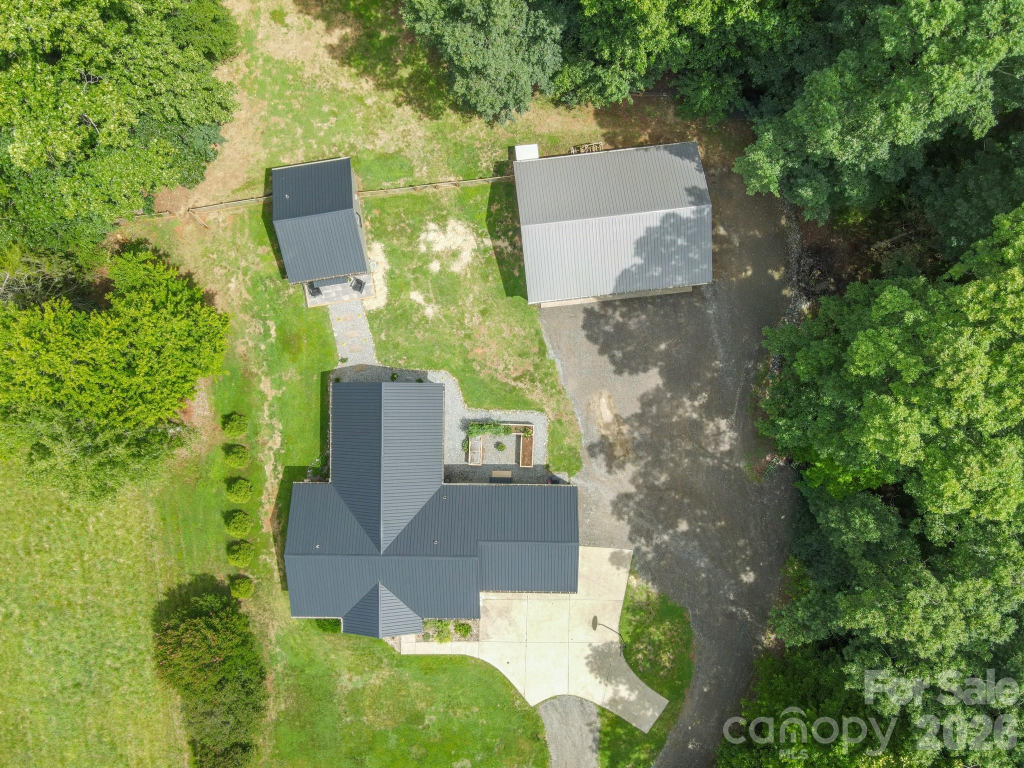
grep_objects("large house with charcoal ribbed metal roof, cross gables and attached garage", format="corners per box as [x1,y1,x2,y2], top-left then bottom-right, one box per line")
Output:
[283,382,581,639]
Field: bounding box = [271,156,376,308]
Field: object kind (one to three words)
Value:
shed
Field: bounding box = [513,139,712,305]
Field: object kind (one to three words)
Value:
barn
